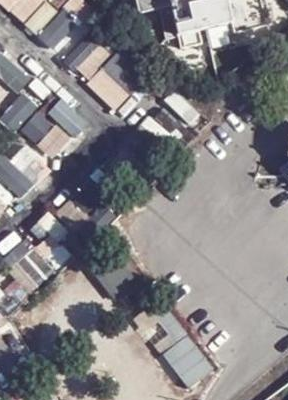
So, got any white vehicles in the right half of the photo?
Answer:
Yes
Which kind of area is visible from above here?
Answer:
residential area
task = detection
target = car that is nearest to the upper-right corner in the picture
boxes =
[225,112,246,132]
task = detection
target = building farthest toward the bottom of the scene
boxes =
[162,336,214,388]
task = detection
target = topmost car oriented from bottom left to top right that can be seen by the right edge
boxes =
[270,191,288,208]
